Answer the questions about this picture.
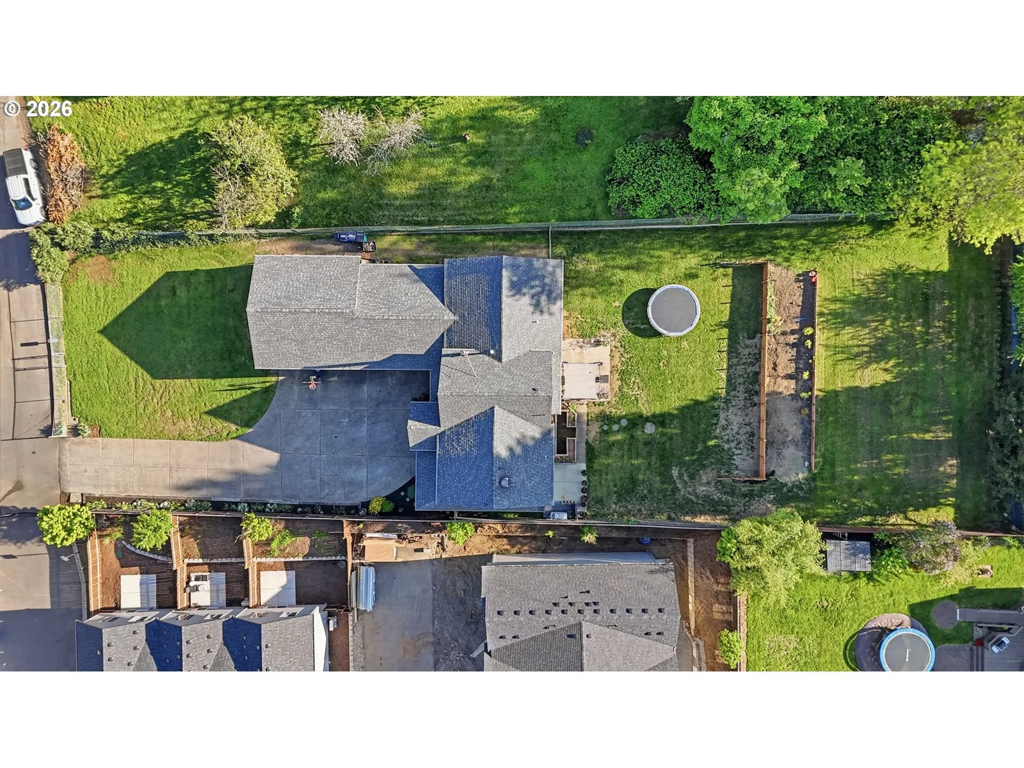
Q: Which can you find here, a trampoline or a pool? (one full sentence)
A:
The image shows a trampoline.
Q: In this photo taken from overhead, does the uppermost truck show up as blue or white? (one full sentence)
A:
The uppermost truck is white.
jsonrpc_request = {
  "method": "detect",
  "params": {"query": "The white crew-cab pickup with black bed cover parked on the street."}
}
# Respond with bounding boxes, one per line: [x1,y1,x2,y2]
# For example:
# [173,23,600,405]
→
[6,148,48,229]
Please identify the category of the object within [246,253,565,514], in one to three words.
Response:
house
